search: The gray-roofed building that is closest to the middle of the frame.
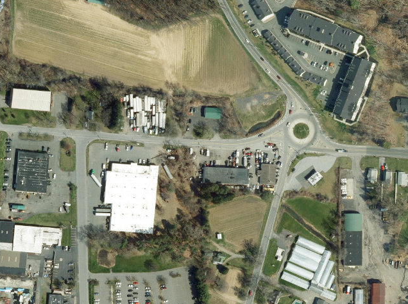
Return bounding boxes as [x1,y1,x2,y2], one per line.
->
[202,167,250,184]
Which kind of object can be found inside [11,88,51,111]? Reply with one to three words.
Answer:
building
